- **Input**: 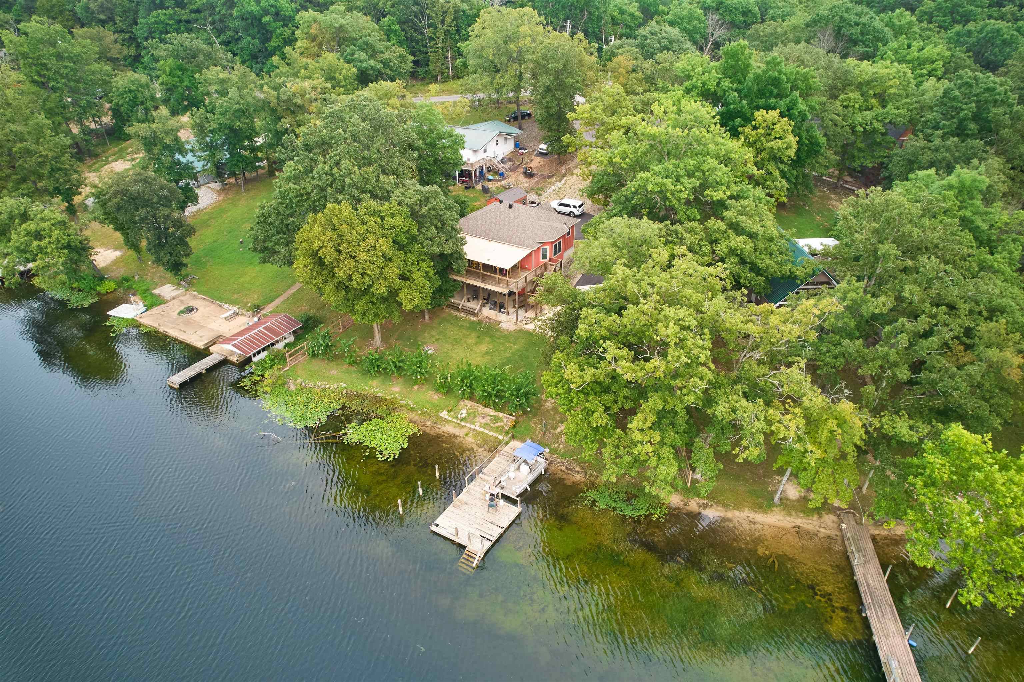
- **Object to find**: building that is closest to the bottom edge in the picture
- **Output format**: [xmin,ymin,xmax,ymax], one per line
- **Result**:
[211,313,302,367]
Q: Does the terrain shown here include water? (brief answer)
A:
Yes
